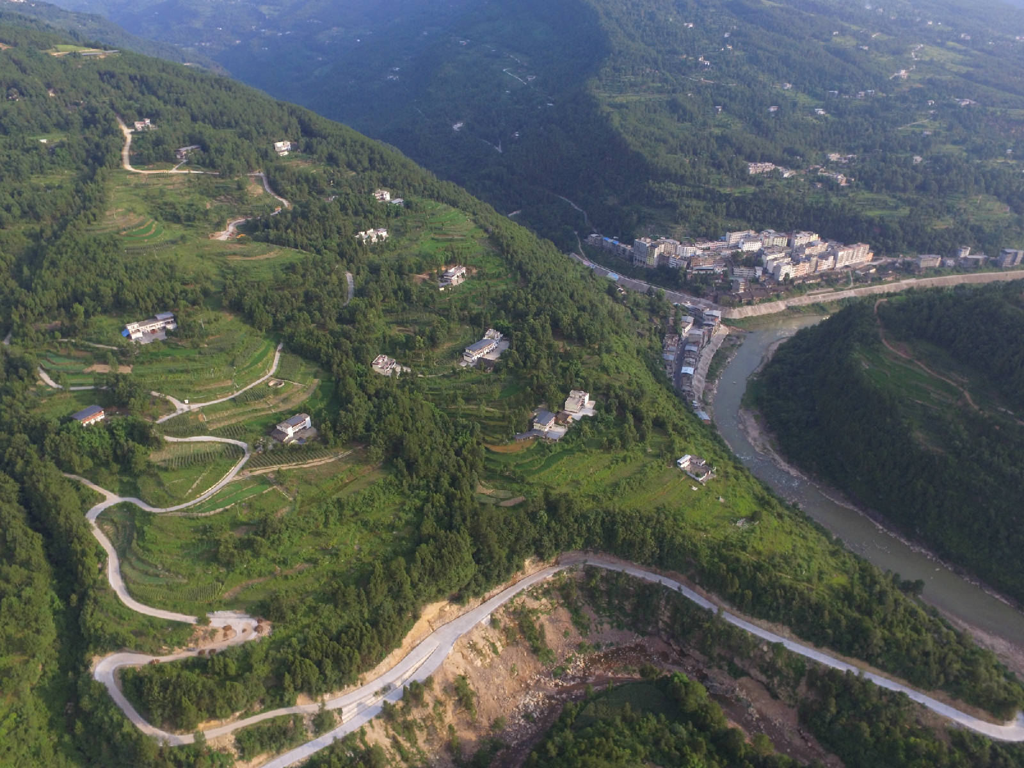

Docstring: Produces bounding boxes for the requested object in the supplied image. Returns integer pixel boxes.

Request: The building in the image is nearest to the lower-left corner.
[75,403,102,425]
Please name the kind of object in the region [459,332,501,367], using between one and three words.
house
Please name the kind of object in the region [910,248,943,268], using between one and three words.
building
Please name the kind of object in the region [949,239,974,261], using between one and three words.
building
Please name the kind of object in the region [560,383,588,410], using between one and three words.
house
